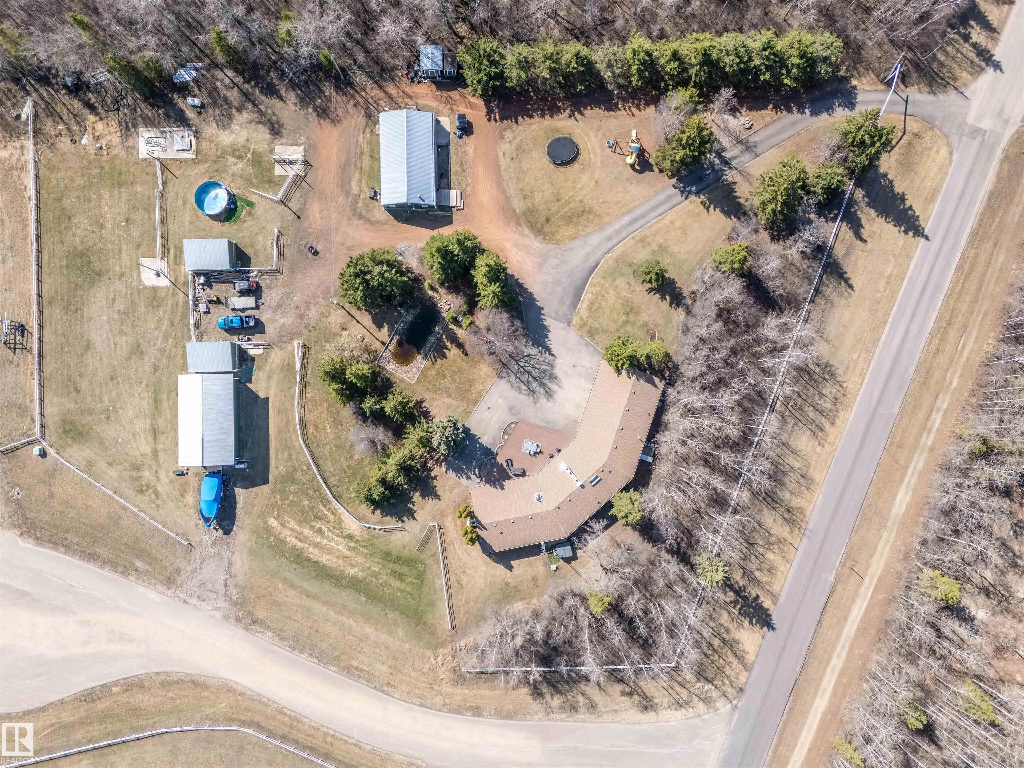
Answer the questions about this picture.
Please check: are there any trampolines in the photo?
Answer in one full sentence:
Yes, a trampoline can be made out from above.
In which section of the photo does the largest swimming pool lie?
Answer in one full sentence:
The largest swimming pool sits in the top left section of the image.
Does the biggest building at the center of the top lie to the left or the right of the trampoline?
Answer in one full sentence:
Looking at the picture, you'll find the biggest building at the center of the top to the left of the trampoline.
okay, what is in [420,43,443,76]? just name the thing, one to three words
shed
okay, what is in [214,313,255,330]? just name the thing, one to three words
vehicle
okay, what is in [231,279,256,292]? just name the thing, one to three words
vehicle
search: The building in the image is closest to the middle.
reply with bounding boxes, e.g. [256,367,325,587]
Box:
[470,360,665,555]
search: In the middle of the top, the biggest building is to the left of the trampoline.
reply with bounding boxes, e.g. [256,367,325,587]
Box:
[379,109,437,210]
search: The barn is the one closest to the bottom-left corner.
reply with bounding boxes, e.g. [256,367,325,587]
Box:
[177,373,242,472]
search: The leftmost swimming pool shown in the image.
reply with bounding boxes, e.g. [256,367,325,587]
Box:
[193,180,233,218]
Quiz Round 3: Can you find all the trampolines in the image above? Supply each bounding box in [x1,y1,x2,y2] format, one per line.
[546,133,579,163]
